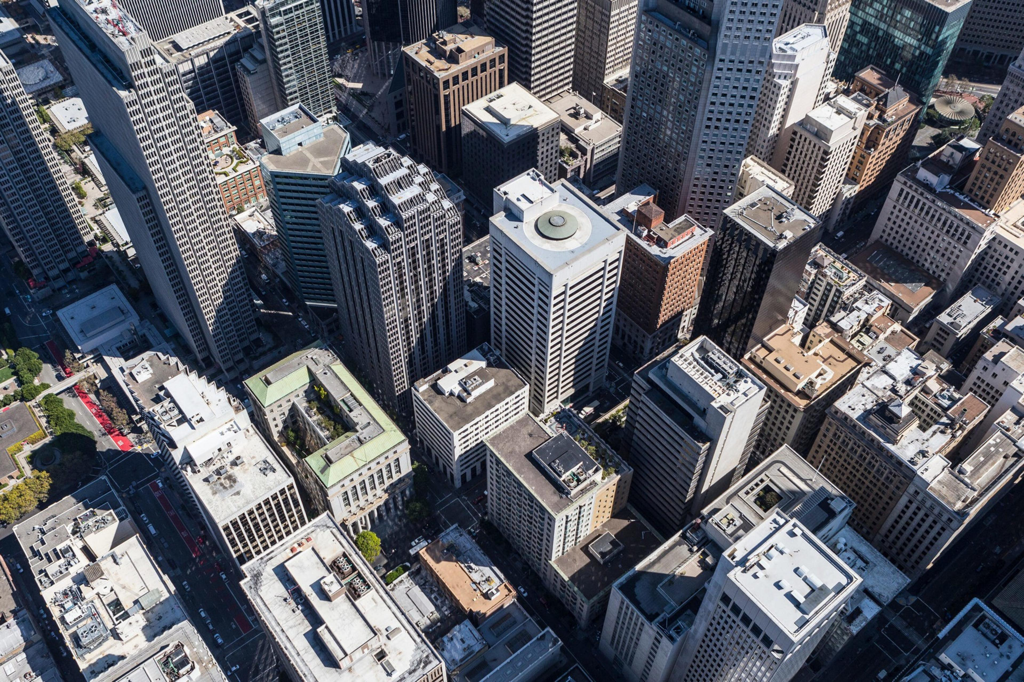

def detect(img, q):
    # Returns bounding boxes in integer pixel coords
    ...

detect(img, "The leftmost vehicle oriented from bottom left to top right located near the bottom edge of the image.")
[226,664,240,677]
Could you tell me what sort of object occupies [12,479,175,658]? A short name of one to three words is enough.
building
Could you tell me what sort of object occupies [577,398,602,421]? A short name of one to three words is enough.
truck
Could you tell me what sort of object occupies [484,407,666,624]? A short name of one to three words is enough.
building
